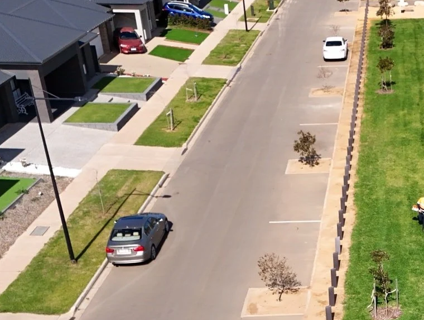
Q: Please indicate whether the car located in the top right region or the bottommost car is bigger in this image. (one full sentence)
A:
Compared with the car located in the top right region, the bottommost car is the bigger one.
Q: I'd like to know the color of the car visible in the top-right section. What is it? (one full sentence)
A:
The color of the car visible in the top-right section is white.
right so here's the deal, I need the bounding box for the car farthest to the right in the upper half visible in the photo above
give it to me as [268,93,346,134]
[323,33,352,58]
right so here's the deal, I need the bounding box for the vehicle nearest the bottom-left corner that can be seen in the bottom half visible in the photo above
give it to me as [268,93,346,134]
[103,209,169,266]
